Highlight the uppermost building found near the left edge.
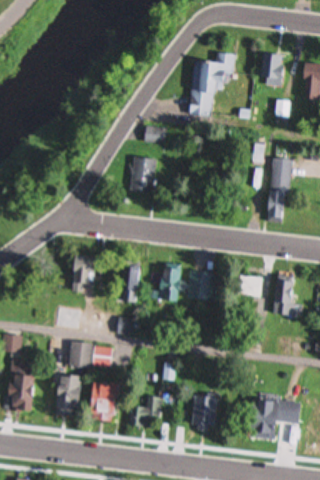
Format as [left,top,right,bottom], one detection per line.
[4,334,24,353]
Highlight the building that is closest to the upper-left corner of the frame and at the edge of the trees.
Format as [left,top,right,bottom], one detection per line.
[144,125,166,142]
